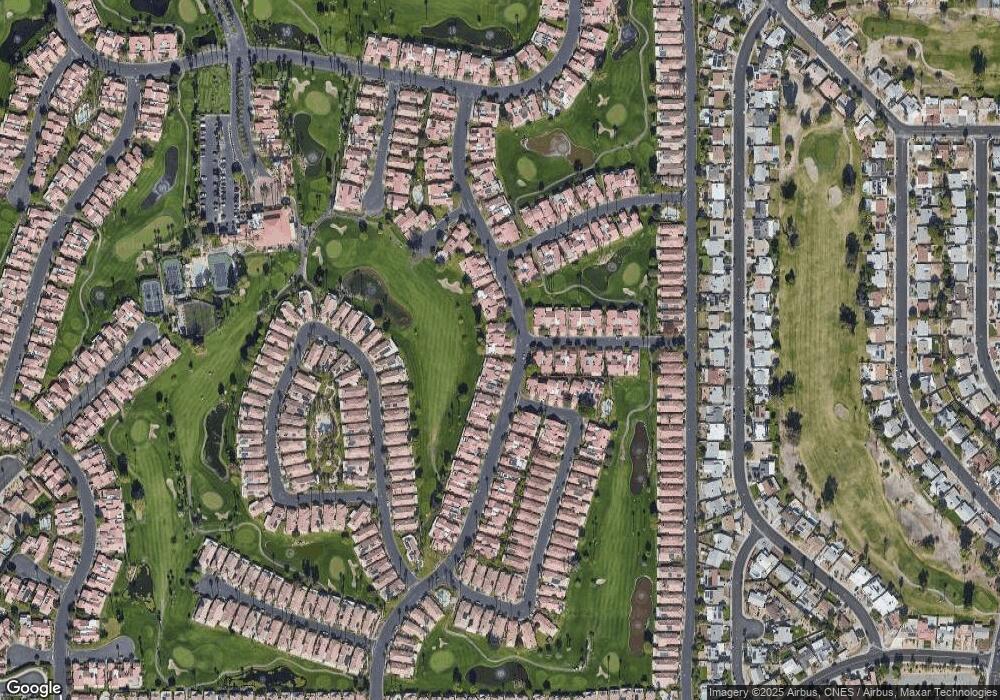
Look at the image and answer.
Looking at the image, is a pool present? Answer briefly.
Yes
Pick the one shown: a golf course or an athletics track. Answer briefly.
golf course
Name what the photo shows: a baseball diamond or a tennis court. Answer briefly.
tennis court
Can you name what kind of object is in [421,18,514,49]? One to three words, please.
pond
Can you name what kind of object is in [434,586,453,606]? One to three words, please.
swimming pool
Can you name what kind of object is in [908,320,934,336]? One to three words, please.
house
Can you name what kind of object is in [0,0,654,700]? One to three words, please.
golf course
